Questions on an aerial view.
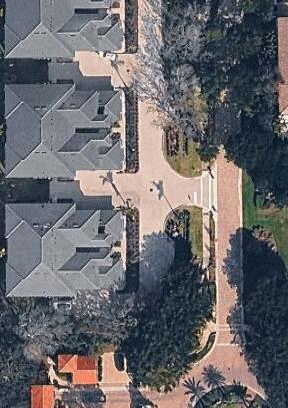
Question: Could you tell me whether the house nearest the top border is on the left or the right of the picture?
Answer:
left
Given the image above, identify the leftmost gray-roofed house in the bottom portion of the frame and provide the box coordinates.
[4,203,123,298]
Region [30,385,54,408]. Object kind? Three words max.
building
